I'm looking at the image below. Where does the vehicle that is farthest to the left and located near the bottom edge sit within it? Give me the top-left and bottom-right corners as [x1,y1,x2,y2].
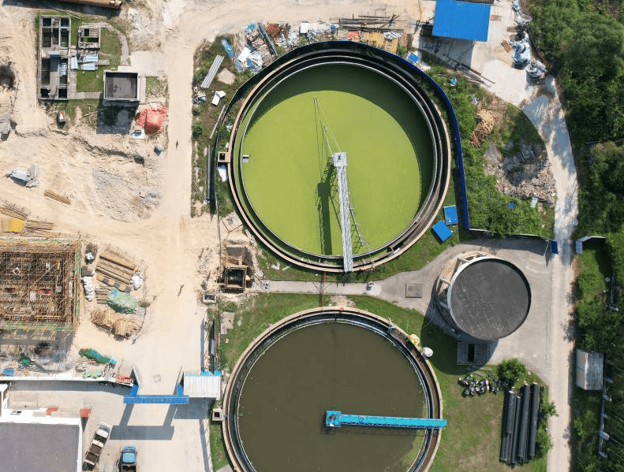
[84,423,112,472]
